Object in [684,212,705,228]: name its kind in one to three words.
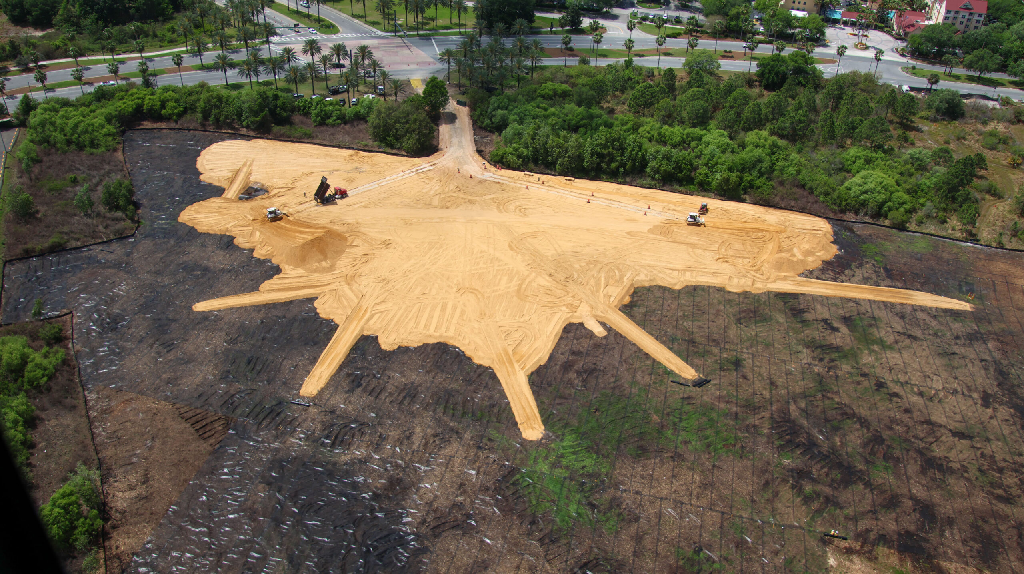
work vehicle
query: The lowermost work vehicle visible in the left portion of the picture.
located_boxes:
[265,206,286,221]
